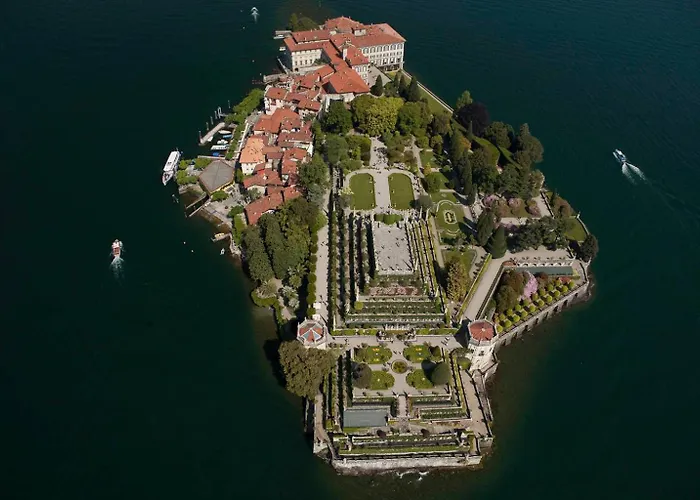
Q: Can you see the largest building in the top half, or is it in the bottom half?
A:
top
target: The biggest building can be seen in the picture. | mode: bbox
[285,18,406,105]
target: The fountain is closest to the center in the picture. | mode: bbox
[392,359,408,374]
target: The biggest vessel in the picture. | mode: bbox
[162,148,182,185]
